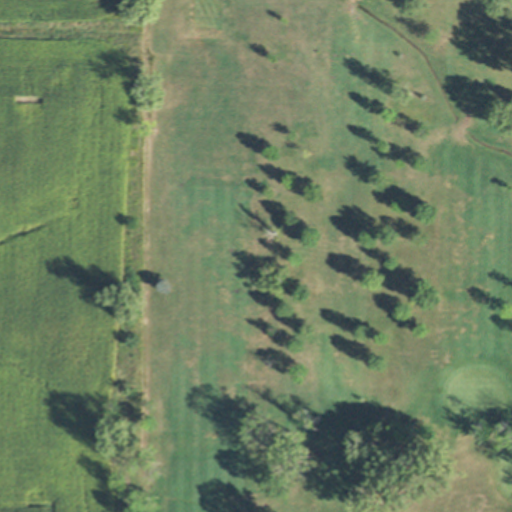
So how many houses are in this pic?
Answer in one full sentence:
There are no houses in this view.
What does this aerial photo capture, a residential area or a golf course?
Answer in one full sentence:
What you see here is a golf course.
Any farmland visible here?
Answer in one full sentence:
Yes, the picture does contain farmland.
